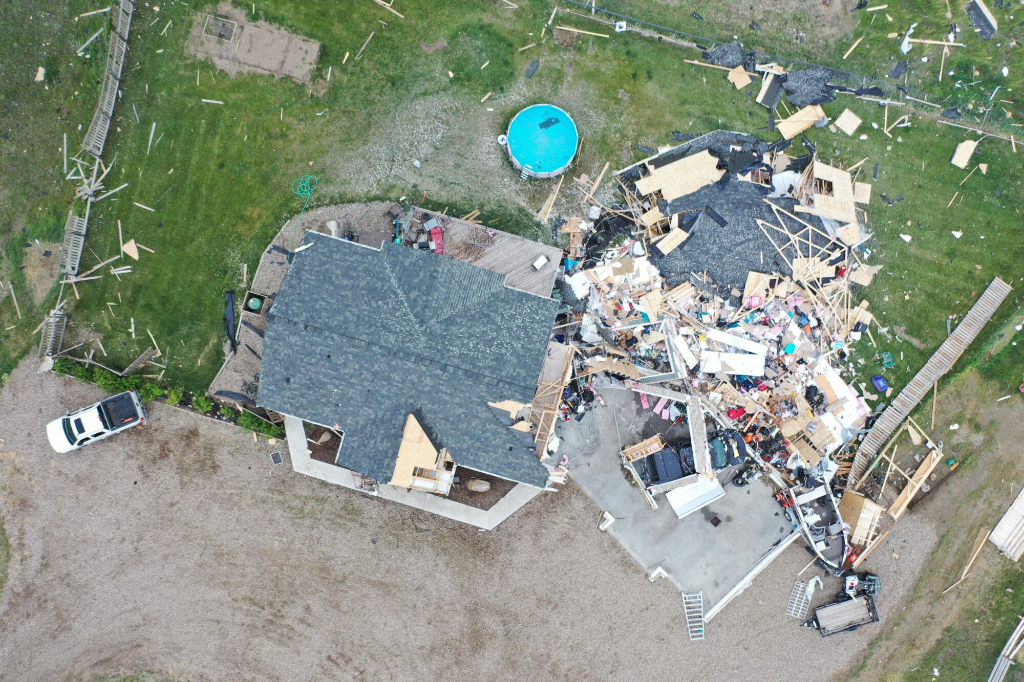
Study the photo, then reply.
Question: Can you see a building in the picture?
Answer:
Yes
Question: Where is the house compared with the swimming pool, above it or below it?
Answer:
below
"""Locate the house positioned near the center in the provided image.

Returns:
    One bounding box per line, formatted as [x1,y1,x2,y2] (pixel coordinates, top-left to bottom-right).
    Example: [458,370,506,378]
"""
[256,228,576,497]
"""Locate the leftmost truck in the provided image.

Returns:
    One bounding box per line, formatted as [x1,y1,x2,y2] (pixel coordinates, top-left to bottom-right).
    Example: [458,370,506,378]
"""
[45,388,156,454]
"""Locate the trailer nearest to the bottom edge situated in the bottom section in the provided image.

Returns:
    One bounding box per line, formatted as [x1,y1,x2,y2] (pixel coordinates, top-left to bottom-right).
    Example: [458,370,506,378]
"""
[801,597,893,643]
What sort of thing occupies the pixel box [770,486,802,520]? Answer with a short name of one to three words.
work vehicle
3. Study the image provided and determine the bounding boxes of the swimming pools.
[507,104,579,182]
